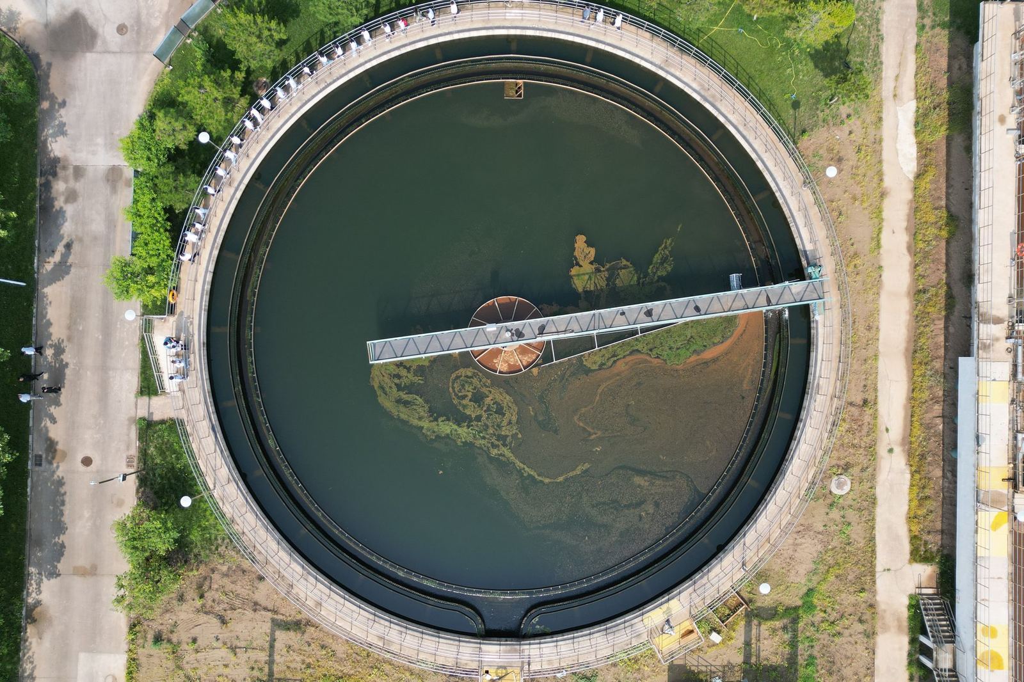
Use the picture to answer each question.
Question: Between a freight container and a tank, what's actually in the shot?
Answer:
tank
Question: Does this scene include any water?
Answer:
Yes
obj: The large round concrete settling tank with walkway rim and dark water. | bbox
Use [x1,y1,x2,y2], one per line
[178,6,840,667]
